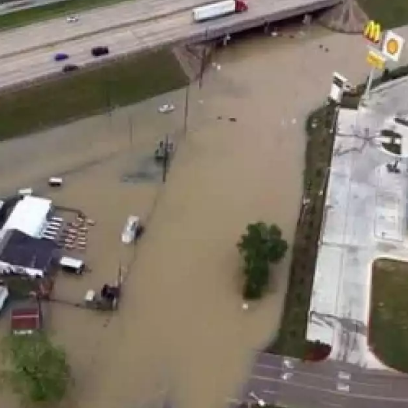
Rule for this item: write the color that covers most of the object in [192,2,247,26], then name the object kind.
white truck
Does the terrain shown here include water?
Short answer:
Yes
